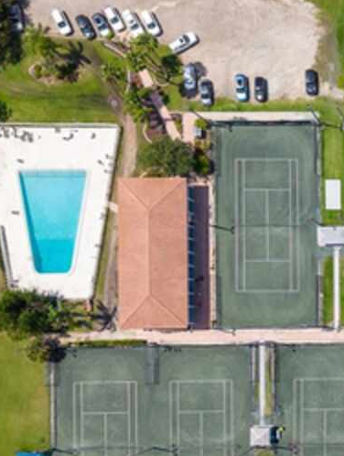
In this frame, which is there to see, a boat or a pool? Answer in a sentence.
Looking from above, you can make out a pool.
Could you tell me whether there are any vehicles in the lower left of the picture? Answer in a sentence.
No, in the lower left of the picture there is no vehicle.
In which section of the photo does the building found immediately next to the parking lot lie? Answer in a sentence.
The building found immediately next to the parking lot sits in the center section of the image.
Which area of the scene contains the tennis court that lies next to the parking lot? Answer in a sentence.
The tennis court that lies next to the parking lot is located in the right region of the scene.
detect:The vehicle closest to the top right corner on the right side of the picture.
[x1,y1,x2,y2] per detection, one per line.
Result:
[304,69,317,96]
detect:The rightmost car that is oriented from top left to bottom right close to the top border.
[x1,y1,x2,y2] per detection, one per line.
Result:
[139,10,160,37]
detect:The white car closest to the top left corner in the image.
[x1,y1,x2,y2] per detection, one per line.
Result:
[50,8,73,37]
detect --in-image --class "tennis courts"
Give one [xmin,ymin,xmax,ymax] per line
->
[215,121,318,328]
[151,345,255,456]
[272,343,344,456]
[51,345,152,456]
